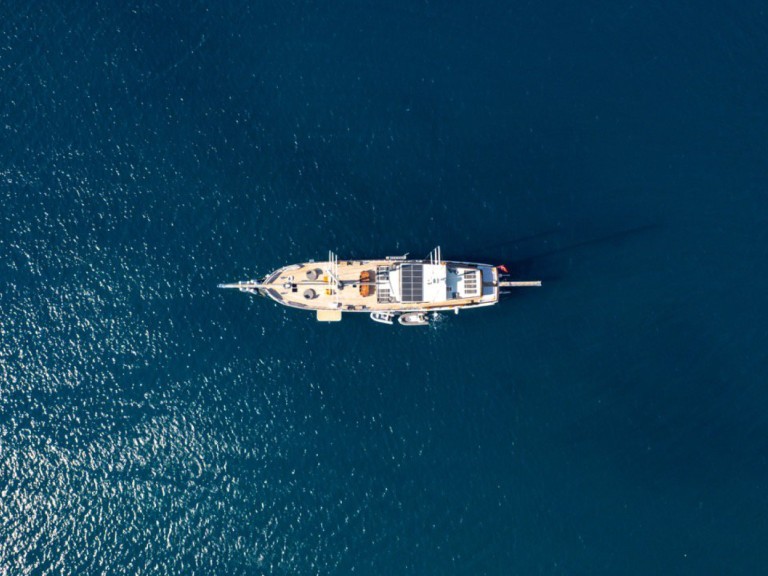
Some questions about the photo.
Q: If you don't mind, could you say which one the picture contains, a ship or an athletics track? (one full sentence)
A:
This aerial view contains a ship.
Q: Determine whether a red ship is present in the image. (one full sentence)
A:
No, there's no red ship here.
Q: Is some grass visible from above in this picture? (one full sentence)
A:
No, no grass is visible.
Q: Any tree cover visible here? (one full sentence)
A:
No, the picture contains no tree cover.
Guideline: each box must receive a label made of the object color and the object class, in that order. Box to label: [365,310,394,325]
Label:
white boat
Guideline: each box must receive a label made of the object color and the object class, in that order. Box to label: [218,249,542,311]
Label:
white ship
